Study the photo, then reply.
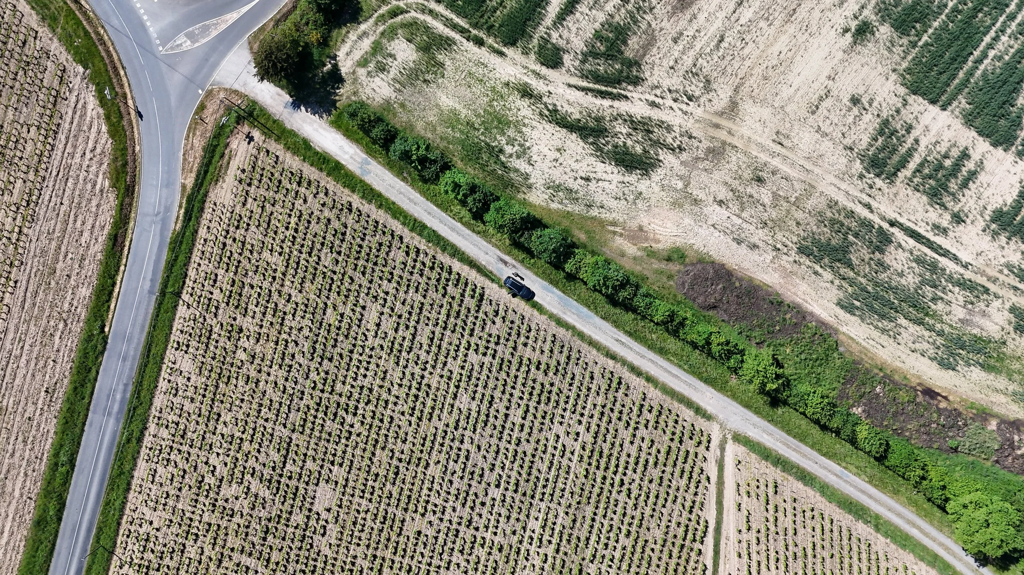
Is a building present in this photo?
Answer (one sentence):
No, I can see no building in this picture.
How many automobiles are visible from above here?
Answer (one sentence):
In total, there is 1 automobile in the scene.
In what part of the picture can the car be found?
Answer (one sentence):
The car is located in the center region of the scene.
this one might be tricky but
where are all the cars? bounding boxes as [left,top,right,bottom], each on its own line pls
[502,275,537,302]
